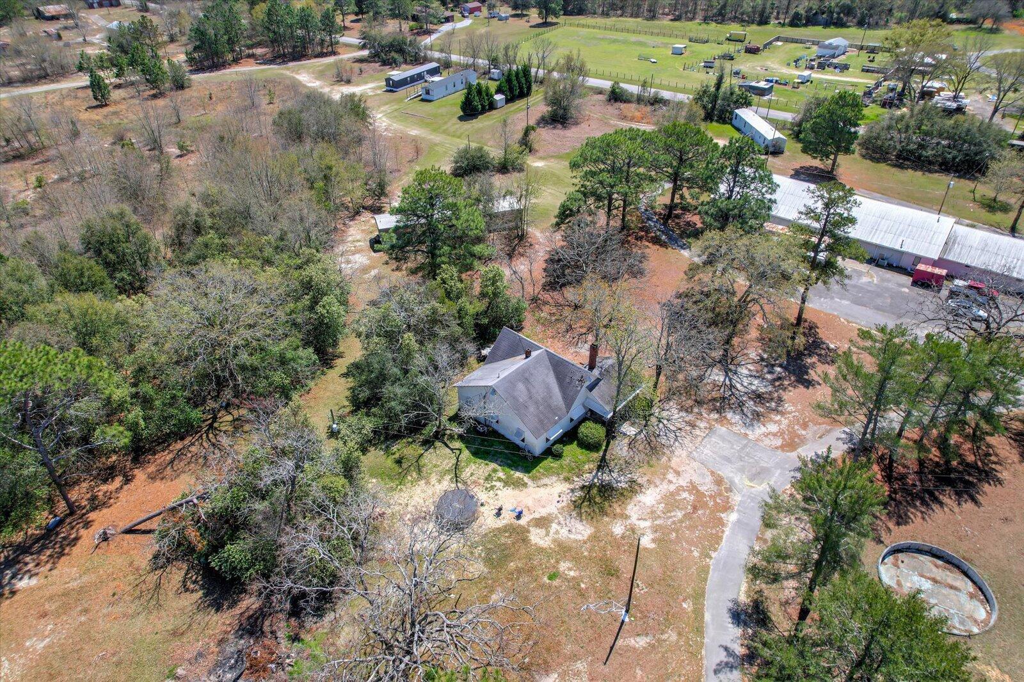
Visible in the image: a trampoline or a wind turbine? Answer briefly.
trampoline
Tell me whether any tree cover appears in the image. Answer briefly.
Yes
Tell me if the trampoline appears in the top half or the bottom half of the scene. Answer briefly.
bottom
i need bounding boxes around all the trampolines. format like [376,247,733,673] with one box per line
[434,486,480,525]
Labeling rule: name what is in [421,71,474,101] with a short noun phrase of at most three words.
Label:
house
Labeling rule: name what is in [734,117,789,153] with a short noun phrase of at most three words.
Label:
house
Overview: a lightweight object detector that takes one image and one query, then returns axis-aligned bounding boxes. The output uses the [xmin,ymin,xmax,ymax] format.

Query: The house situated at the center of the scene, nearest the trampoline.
[451,327,646,455]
